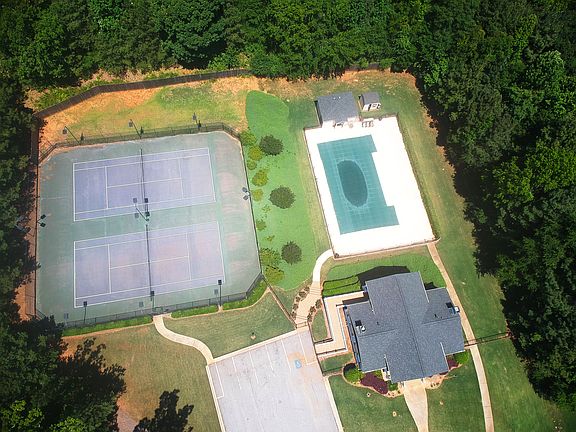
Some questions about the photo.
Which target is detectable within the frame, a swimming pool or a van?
swimming pool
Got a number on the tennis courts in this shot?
2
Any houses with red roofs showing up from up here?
No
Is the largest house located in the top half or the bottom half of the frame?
bottom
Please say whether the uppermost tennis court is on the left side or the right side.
left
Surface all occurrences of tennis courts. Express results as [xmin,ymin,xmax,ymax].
[74,221,226,308]
[74,147,215,221]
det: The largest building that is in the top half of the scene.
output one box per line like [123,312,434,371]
[315,93,359,129]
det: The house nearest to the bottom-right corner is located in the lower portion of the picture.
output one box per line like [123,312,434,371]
[343,272,466,383]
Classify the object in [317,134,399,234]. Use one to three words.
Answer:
swimming pool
